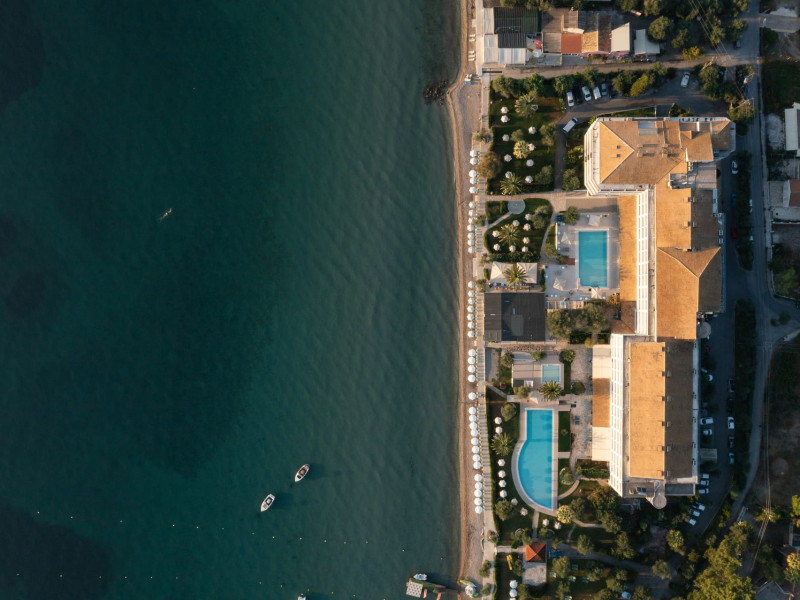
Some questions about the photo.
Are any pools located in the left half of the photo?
No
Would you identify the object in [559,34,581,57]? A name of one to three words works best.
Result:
building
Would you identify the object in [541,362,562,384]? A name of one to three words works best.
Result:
swimming pool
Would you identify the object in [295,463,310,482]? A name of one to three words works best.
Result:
boat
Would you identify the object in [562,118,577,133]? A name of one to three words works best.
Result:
vehicle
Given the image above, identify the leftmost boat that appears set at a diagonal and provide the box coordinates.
[261,493,275,512]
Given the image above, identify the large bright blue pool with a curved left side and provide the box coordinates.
[516,408,554,511]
